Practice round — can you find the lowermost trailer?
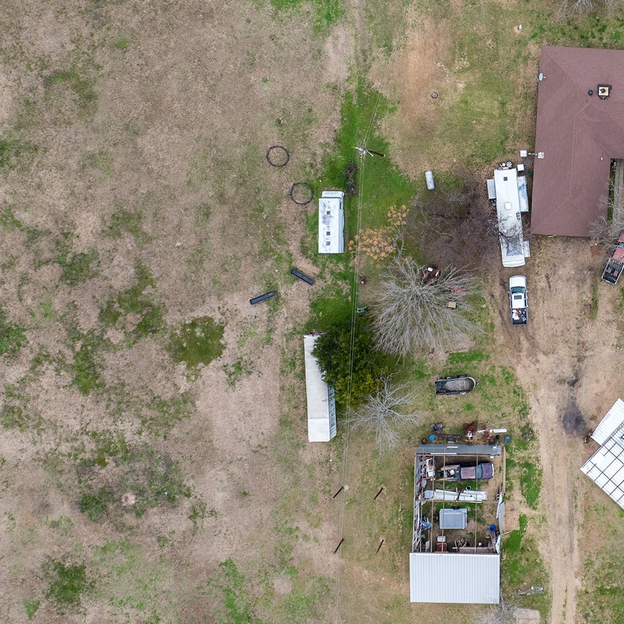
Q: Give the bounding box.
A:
[440,502,468,529]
